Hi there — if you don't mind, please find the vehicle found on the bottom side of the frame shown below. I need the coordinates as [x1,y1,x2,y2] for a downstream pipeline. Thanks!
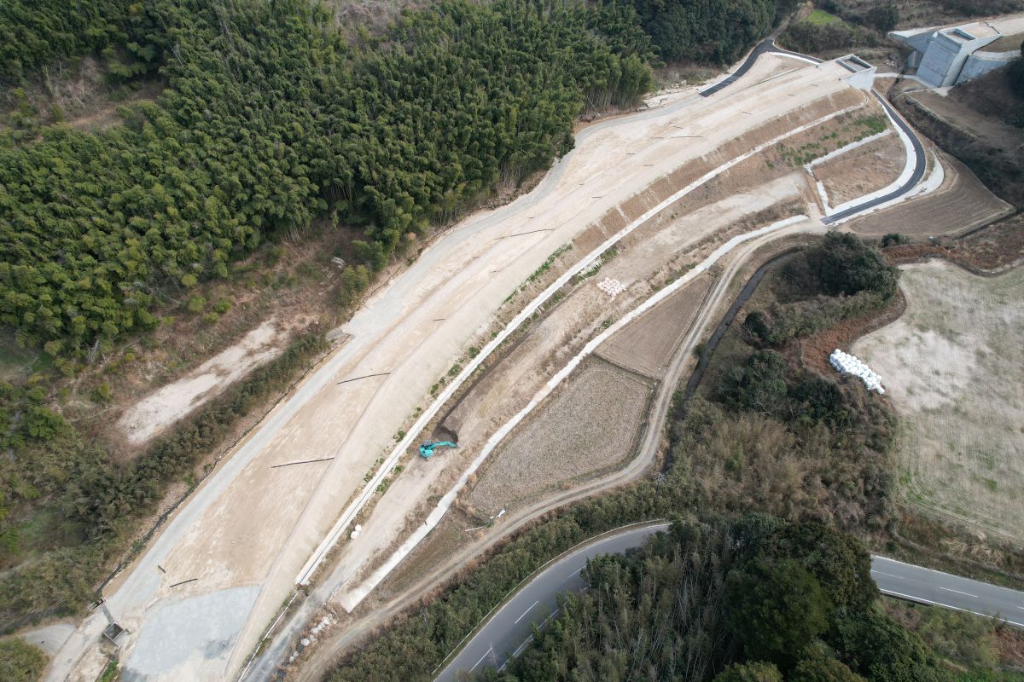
[419,438,457,458]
